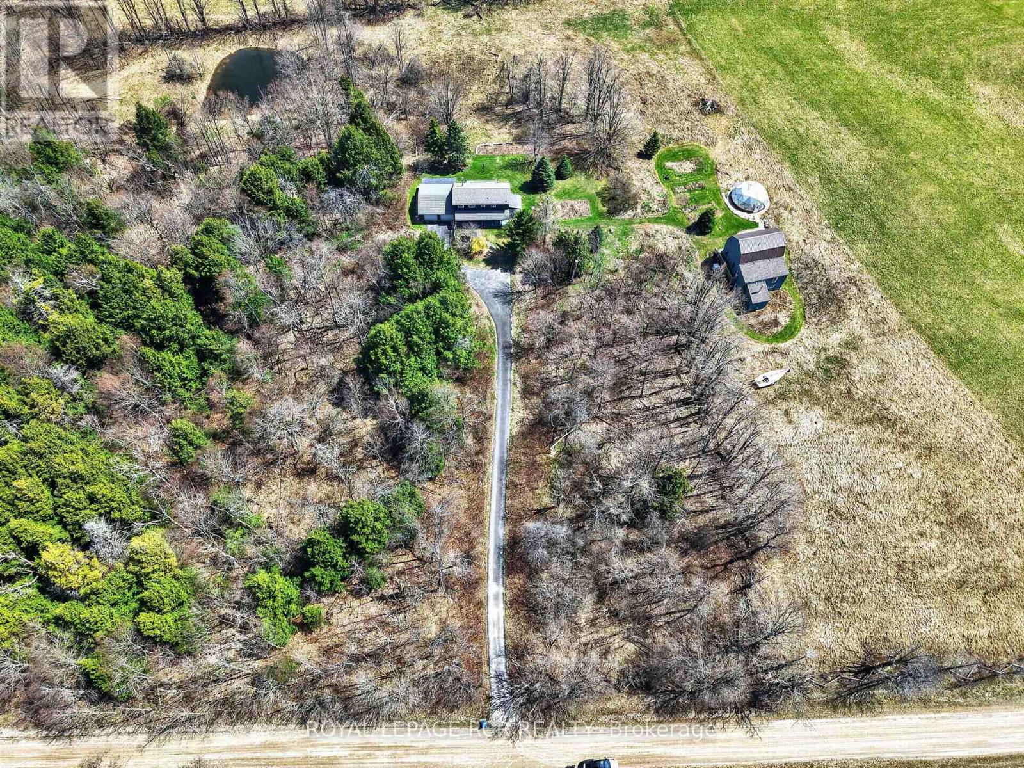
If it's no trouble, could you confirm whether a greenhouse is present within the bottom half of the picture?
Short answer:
No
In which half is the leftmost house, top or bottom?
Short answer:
top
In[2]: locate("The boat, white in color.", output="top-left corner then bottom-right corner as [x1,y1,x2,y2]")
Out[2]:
[755,368,790,387]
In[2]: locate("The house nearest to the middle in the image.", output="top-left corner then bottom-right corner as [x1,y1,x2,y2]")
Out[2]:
[417,177,520,231]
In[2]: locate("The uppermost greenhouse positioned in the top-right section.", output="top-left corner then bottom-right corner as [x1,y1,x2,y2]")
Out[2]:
[730,179,770,215]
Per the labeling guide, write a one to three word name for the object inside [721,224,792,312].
barn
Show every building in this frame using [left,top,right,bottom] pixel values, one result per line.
[730,179,770,215]
[721,224,792,312]
[417,177,520,231]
